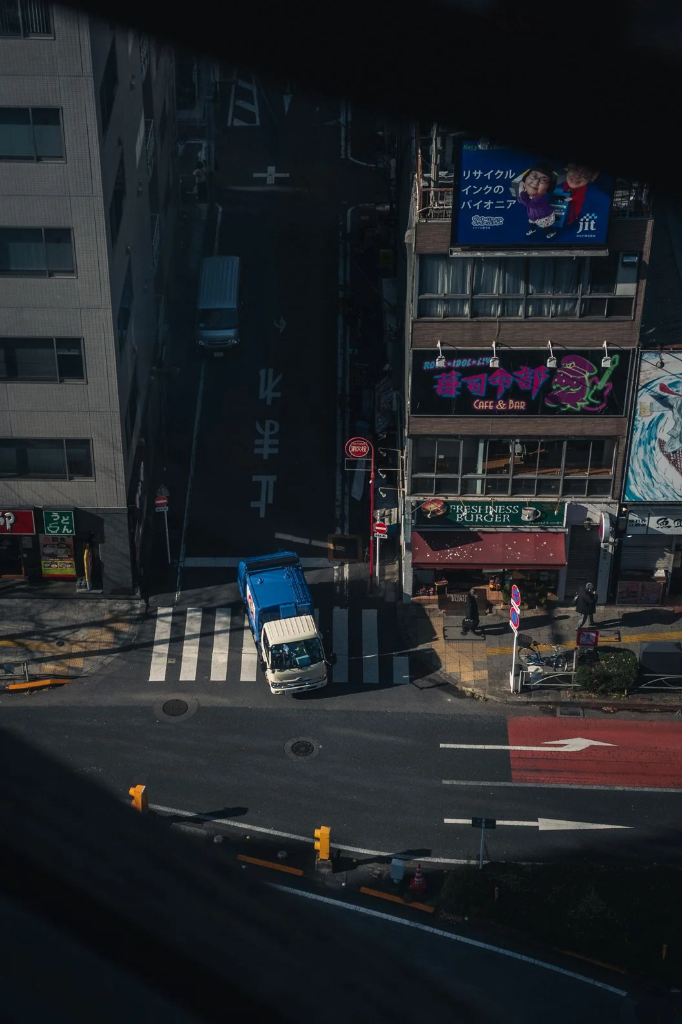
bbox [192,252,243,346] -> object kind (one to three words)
van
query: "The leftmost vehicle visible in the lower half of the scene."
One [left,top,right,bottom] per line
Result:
[235,554,336,698]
